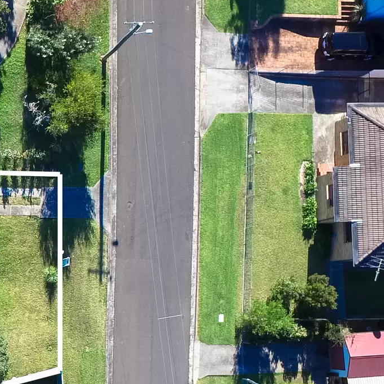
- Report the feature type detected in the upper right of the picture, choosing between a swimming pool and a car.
car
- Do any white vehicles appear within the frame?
No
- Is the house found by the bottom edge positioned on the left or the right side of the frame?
right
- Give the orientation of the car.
from left to right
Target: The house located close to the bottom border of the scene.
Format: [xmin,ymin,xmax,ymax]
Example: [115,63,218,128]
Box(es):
[317,331,384,379]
